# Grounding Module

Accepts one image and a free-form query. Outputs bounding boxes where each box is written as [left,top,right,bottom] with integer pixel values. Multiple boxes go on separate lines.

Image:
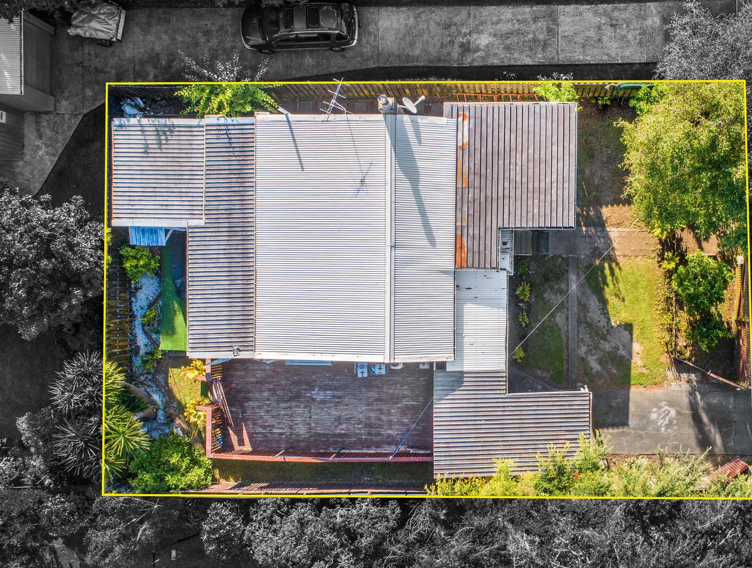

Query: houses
[0,9,56,175]
[111,90,579,370]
